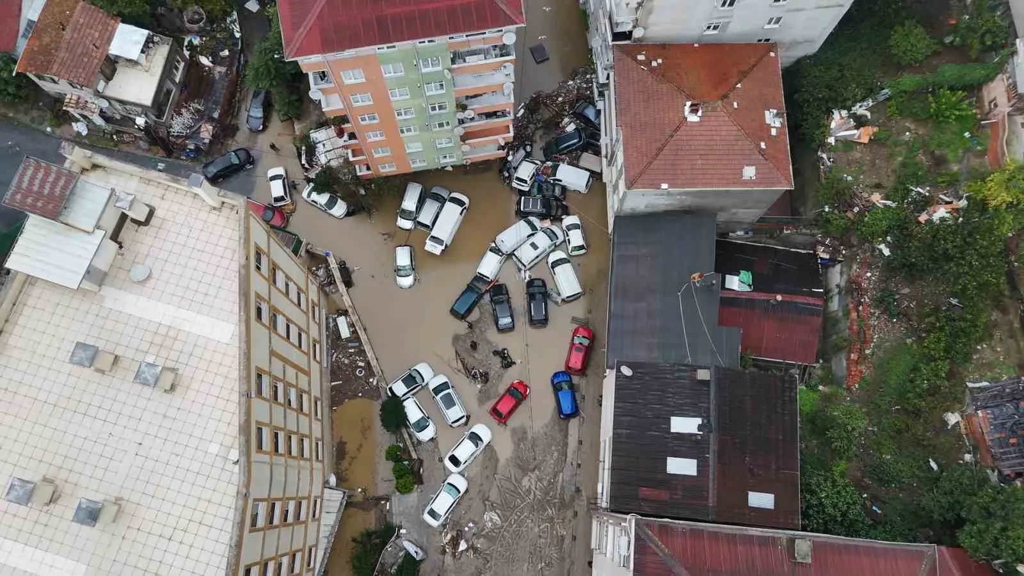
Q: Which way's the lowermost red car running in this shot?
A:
diagonally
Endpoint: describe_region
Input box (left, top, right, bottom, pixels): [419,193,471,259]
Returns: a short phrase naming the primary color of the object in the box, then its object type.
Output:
white vehicle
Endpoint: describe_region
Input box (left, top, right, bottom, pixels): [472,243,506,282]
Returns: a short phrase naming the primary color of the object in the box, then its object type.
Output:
white van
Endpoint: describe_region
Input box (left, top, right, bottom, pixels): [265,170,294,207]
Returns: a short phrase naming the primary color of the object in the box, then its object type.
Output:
white car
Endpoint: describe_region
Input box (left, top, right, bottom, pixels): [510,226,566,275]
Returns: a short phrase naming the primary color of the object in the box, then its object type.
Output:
white car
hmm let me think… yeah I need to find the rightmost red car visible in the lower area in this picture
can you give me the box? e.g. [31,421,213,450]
[565,327,594,378]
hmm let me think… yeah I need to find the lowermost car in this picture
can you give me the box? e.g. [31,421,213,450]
[419,472,472,532]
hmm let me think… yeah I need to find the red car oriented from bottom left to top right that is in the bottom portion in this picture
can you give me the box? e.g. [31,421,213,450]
[486,379,532,429]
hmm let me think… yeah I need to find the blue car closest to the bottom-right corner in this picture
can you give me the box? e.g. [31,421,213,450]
[550,372,579,421]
